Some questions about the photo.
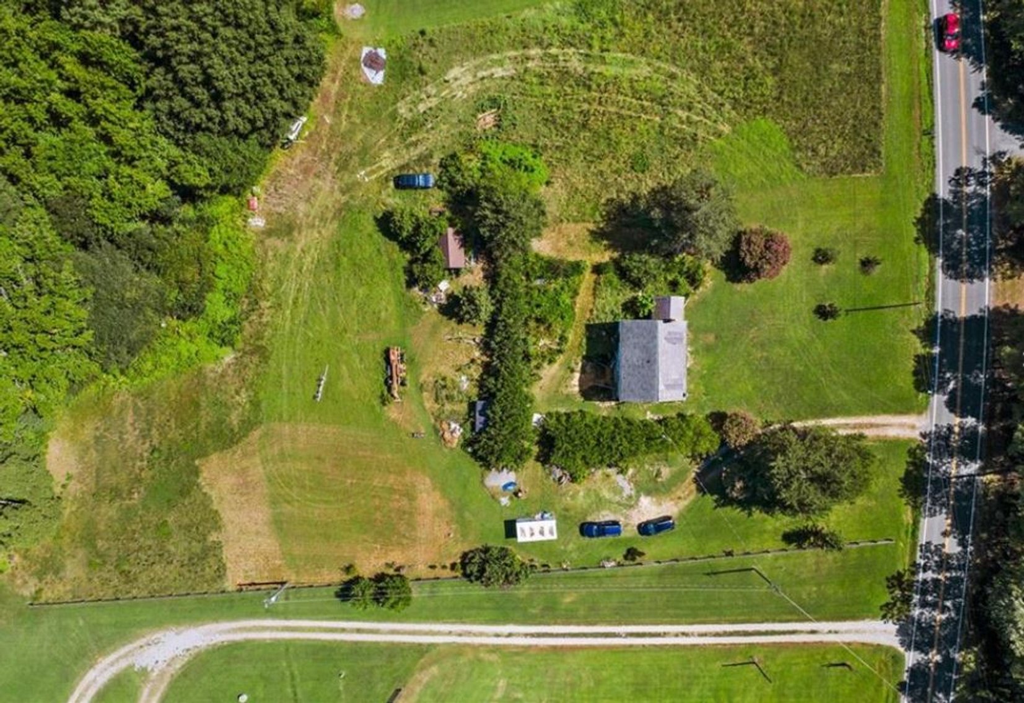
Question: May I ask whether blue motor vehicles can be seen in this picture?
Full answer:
Yes, the photo shows a blue motor vehicle.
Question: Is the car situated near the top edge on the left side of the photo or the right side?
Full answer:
The car situated near the top edge appears in the right half of the scene.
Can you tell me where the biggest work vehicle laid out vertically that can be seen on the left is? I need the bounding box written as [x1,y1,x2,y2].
[385,348,404,400]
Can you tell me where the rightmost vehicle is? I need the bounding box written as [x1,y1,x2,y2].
[943,10,966,51]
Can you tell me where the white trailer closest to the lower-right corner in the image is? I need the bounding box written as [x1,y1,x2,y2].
[515,519,564,544]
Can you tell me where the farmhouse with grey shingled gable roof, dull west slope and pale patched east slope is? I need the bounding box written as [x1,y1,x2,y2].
[606,291,688,403]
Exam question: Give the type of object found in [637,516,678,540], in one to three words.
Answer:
car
